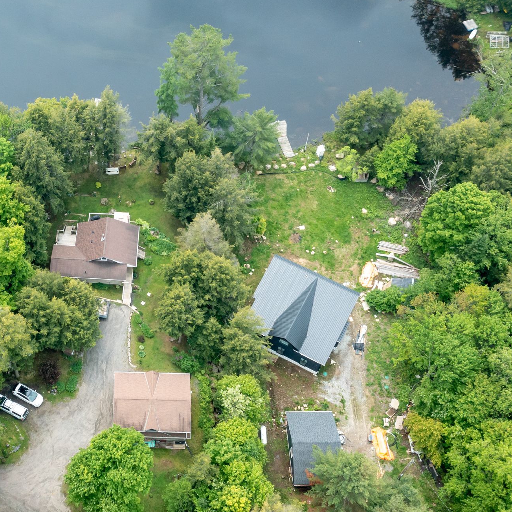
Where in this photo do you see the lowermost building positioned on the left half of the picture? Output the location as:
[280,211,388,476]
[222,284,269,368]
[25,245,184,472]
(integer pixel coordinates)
[113,371,191,451]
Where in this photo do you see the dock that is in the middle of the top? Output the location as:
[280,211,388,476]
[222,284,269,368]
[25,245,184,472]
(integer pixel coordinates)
[275,120,295,159]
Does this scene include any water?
Yes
